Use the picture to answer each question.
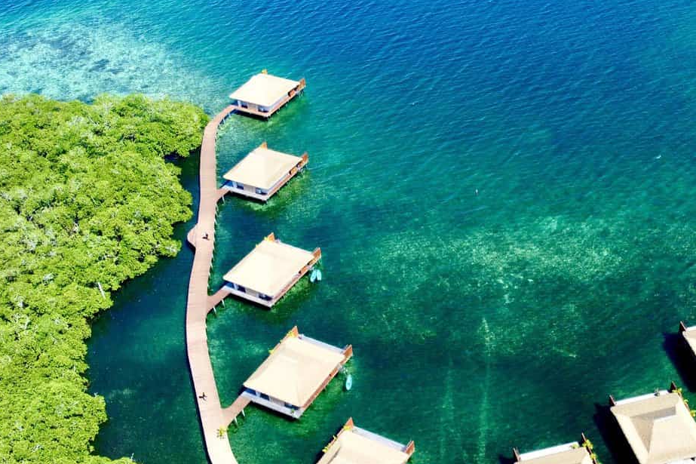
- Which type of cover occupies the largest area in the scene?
water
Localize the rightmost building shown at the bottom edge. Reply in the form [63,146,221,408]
[608,383,696,464]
